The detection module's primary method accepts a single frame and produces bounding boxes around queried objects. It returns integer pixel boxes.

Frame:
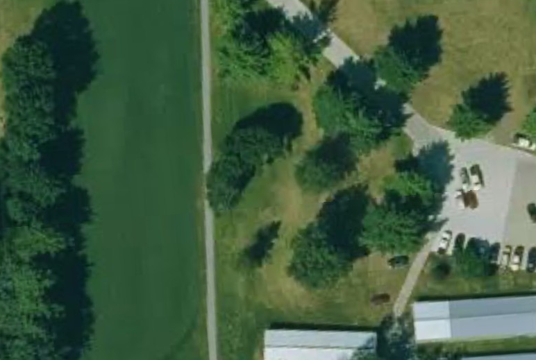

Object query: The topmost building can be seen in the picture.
[412,292,536,342]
